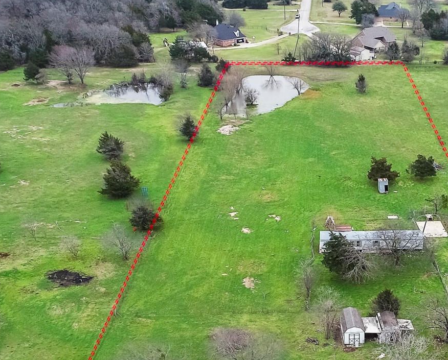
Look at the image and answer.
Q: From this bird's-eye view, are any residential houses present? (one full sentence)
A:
Yes, a residential house is visible in the scene.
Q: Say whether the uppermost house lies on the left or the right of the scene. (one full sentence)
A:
It is on the right.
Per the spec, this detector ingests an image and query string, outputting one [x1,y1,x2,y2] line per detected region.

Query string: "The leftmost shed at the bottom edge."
[341,308,366,346]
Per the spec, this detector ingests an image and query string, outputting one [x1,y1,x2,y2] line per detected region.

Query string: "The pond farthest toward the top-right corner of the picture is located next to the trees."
[223,75,310,117]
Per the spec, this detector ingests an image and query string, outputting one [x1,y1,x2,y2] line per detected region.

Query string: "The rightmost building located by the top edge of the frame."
[380,0,426,21]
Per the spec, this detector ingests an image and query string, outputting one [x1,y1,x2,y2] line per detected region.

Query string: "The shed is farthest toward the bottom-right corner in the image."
[379,311,400,342]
